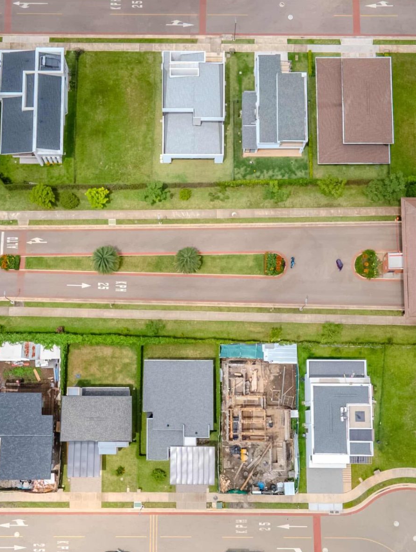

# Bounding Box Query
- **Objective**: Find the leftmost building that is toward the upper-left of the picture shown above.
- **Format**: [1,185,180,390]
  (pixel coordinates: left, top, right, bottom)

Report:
[0,48,68,167]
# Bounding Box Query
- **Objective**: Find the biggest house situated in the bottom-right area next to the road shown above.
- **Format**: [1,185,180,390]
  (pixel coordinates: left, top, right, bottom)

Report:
[301,360,373,490]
